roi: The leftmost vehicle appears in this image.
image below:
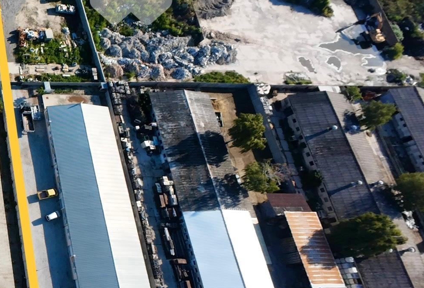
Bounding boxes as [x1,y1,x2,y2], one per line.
[20,107,37,130]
